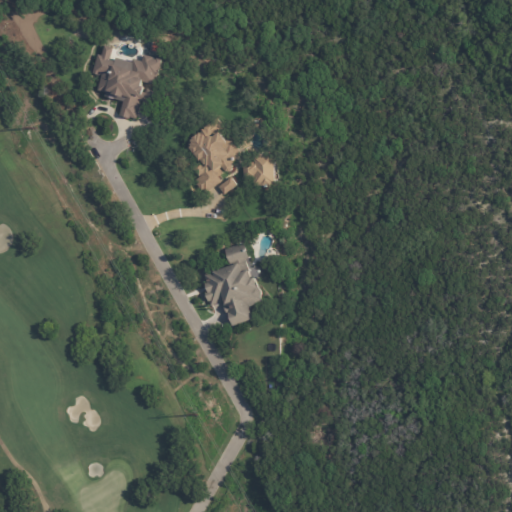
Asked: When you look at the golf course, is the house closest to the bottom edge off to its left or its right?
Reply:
right of it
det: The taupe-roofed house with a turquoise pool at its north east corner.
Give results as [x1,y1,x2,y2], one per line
[204,246,262,326]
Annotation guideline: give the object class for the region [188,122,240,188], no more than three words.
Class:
house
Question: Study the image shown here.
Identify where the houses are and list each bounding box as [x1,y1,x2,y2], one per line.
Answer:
[204,246,262,326]
[95,44,165,122]
[244,158,276,187]
[188,122,240,188]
